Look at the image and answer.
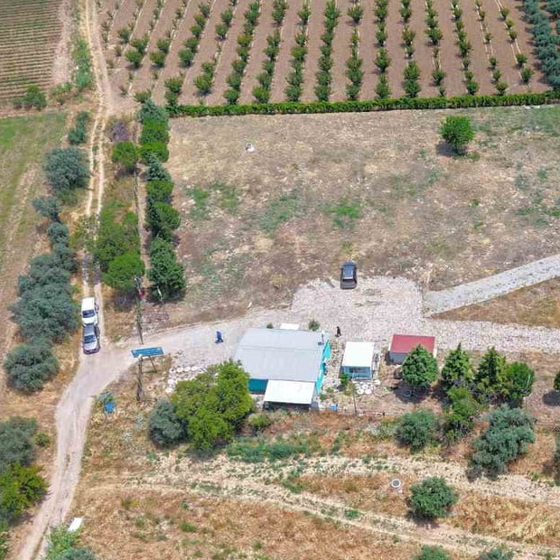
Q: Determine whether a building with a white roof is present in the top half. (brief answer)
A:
No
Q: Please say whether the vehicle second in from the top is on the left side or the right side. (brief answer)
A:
left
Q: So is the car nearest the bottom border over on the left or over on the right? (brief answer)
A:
left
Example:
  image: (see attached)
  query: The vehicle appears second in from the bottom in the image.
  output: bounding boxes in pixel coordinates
[78,291,98,325]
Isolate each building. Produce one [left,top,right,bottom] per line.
[341,341,378,380]
[229,322,334,417]
[390,331,437,365]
